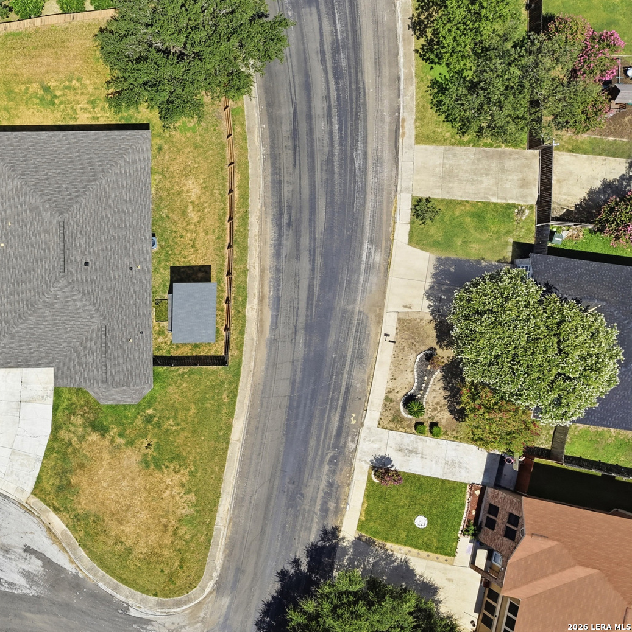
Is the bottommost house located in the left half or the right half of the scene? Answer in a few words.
right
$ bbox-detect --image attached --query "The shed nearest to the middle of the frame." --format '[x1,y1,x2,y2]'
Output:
[167,282,216,343]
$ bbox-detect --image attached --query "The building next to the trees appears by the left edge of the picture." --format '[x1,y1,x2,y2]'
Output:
[0,130,153,407]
